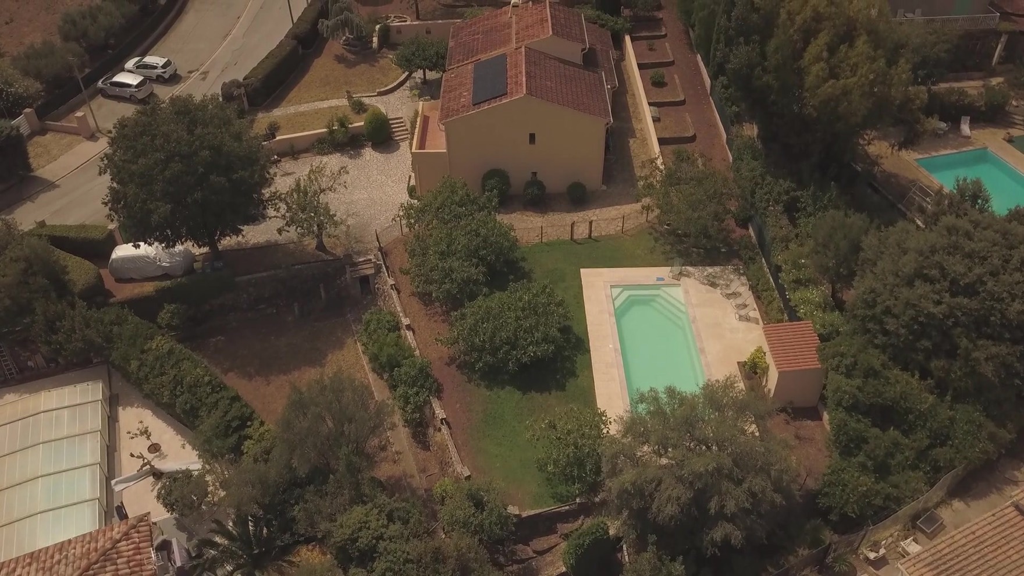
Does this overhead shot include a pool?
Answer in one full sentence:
Yes, there's a pool down there.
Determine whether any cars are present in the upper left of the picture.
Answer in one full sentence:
Yes, there is a car in the upper left of the picture.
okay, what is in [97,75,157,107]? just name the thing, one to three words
car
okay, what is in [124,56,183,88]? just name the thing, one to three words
car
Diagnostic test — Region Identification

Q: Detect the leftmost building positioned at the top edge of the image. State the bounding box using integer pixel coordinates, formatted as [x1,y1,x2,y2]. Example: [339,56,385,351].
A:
[412,0,620,195]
